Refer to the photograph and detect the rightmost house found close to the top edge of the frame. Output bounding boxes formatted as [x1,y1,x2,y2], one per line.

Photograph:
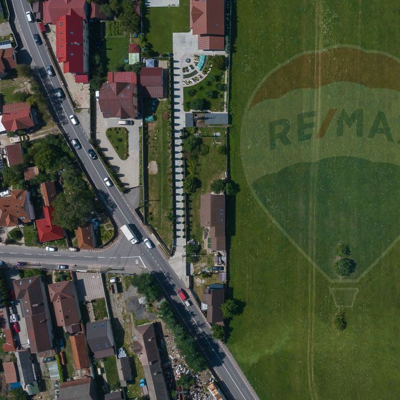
[190,0,226,50]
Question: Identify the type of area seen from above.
residential area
